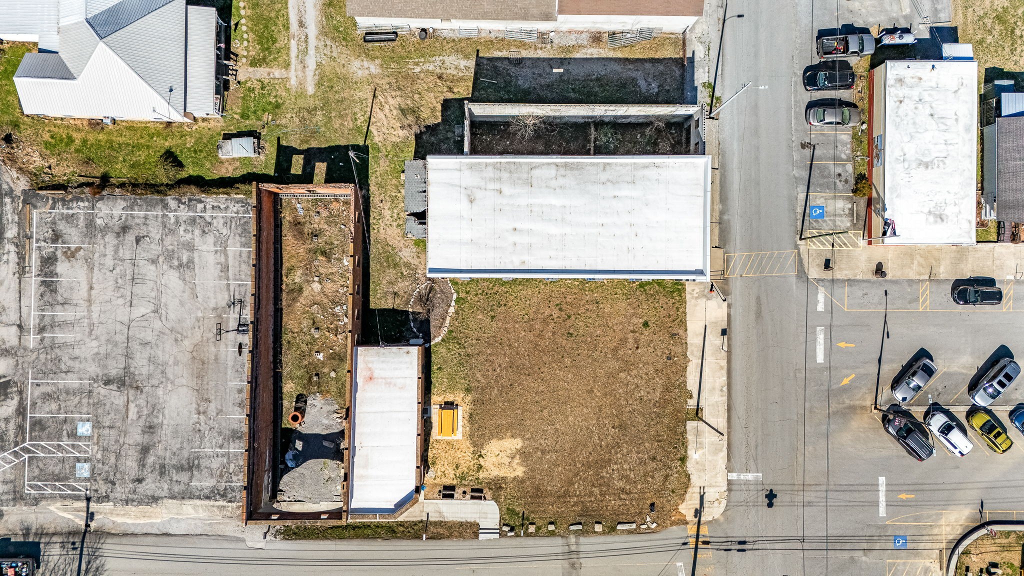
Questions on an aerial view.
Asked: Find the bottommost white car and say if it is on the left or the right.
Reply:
right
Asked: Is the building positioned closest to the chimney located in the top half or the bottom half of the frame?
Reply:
bottom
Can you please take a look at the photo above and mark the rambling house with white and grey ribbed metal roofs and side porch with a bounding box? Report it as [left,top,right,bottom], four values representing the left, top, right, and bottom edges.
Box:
[0,0,235,132]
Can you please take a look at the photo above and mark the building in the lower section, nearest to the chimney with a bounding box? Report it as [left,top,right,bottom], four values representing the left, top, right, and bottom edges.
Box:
[351,344,426,519]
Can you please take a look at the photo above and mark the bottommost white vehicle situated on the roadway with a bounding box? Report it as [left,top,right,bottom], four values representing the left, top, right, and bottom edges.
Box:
[920,407,972,458]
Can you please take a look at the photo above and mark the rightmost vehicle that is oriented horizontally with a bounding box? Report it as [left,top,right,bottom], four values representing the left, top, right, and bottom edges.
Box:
[947,284,1002,309]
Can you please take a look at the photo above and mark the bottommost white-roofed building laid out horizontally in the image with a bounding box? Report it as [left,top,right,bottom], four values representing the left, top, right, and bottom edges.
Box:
[426,155,711,281]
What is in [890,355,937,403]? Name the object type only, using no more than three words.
car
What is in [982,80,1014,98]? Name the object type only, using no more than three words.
shed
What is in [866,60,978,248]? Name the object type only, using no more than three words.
building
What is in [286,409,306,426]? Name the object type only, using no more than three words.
chimney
